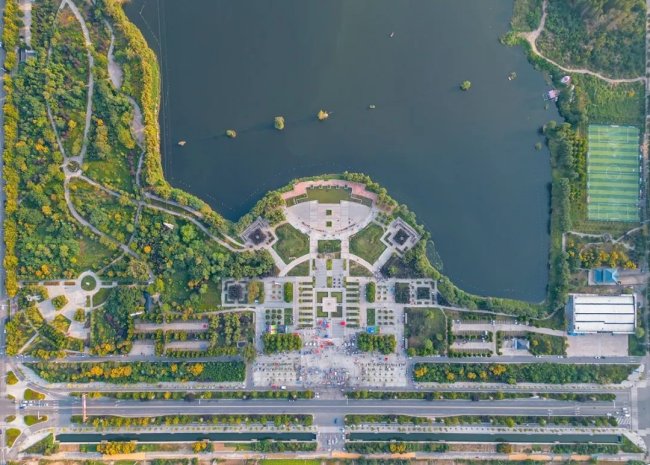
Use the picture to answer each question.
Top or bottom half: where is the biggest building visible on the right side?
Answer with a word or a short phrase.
bottom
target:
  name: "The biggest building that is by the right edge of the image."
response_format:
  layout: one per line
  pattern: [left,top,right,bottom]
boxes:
[566,293,636,335]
